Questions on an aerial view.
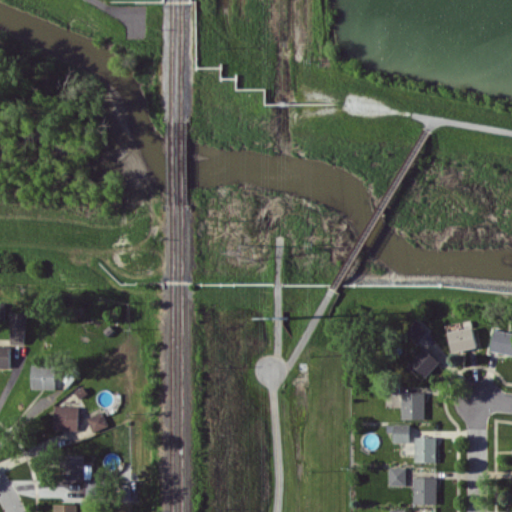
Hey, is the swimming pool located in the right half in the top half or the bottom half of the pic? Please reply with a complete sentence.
The swimming pool located in the right half sits in the bottom half of the picture.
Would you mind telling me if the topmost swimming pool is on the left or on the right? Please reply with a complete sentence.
The topmost swimming pool is on the left side of the image.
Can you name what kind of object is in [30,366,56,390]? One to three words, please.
building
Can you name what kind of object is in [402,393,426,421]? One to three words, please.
house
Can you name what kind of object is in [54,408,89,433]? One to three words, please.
house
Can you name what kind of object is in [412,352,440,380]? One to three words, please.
building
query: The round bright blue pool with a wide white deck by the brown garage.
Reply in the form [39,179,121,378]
[96,390,122,415]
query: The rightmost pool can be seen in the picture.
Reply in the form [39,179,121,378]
[360,432,382,455]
